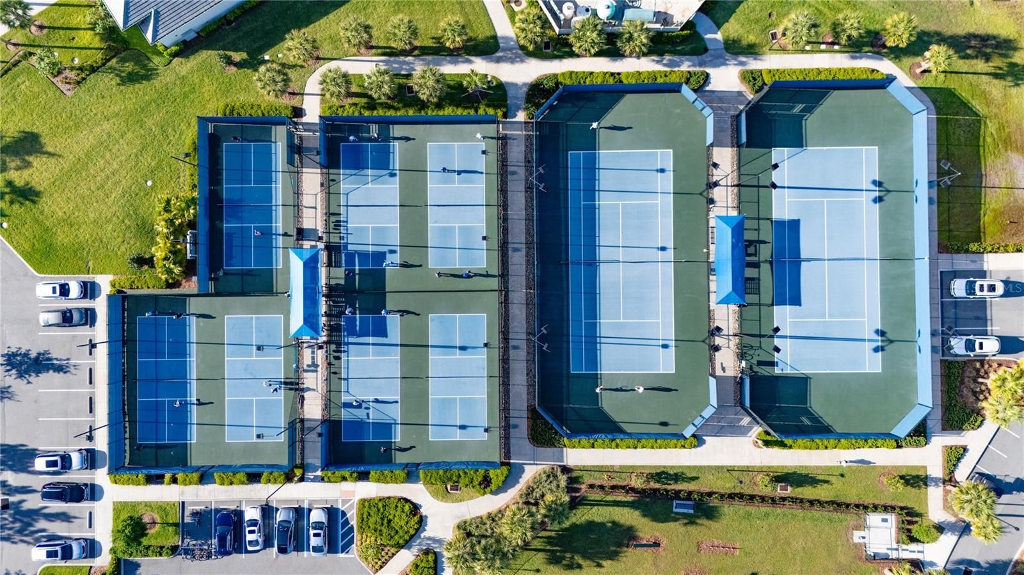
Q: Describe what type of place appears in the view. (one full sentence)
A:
The area seen from above is a sports ground.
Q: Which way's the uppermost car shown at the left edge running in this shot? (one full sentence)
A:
Seen from above, the uppermost car shown at the left edge lies from side to side.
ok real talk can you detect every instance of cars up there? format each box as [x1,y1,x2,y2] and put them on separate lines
[273,507,297,556]
[33,279,86,301]
[948,277,1006,300]
[38,481,90,504]
[31,537,89,563]
[38,307,88,328]
[212,510,237,556]
[306,508,329,557]
[946,335,1002,357]
[242,506,266,552]
[34,449,89,472]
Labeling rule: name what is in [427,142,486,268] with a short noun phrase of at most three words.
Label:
sports court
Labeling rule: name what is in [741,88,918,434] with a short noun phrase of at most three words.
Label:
tennis court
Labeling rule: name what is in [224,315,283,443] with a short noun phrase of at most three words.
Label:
sports court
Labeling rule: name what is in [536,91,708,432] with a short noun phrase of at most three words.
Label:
tennis court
